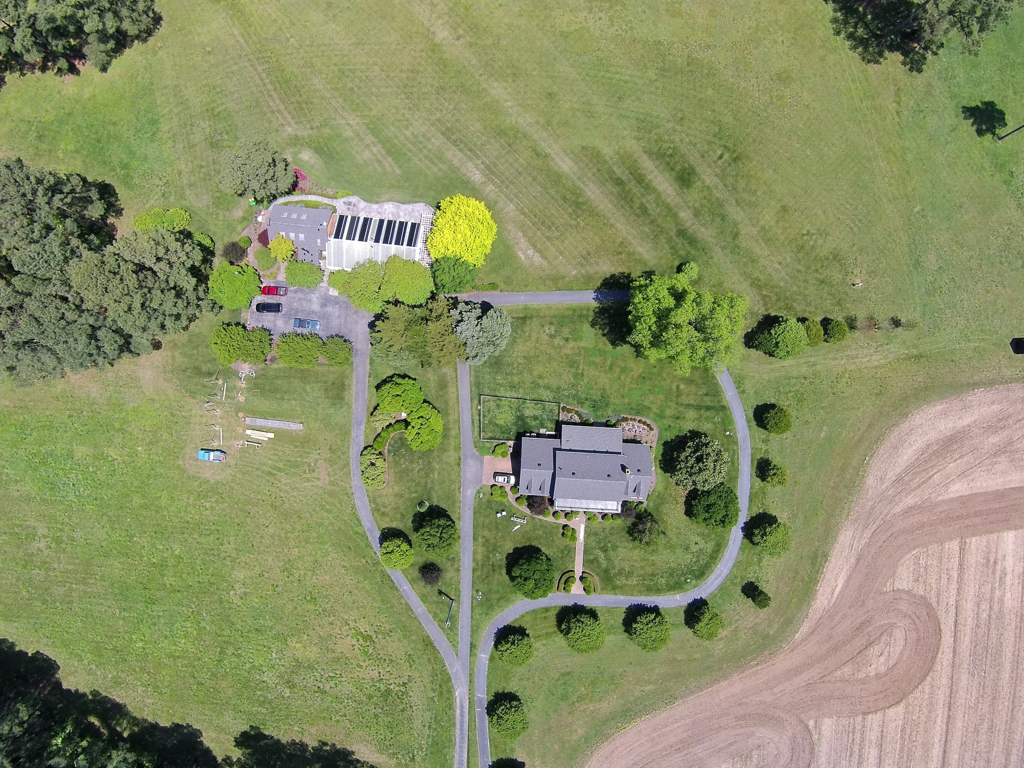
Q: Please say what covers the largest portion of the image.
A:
grass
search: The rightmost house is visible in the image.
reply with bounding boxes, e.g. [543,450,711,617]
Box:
[519,421,653,513]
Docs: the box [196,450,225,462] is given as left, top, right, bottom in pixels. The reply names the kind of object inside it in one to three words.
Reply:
vehicle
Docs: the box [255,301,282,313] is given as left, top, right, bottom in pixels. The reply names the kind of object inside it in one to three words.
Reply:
vehicle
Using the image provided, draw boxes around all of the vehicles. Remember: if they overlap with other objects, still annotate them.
[292,318,320,330]
[261,284,288,296]
[493,474,516,484]
[196,450,225,462]
[255,301,282,313]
